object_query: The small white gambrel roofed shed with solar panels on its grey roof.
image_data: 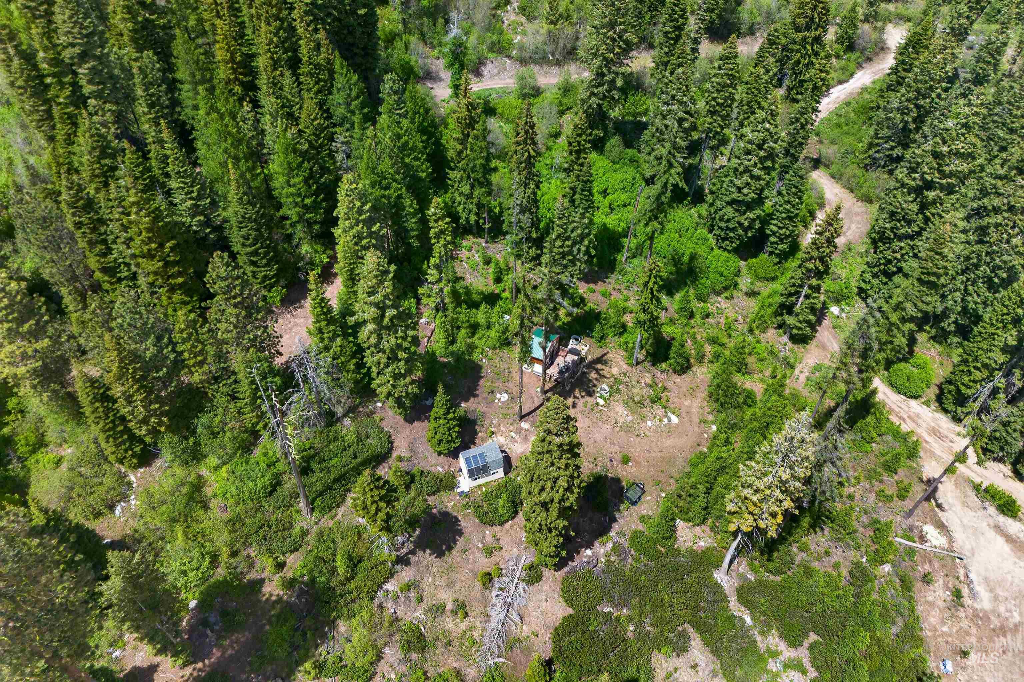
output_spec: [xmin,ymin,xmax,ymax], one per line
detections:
[453,442,506,496]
